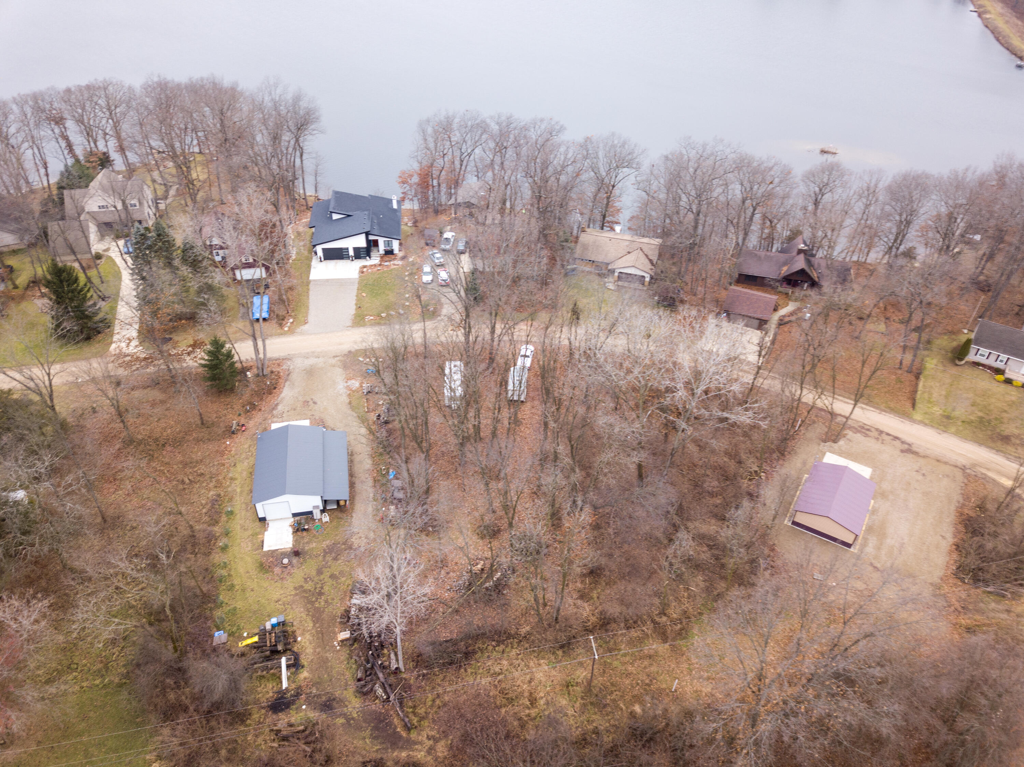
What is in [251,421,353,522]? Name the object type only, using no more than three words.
barn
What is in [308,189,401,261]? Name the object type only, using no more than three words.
house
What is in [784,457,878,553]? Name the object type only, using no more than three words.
barn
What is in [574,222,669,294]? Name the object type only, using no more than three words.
house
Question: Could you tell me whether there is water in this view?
Yes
